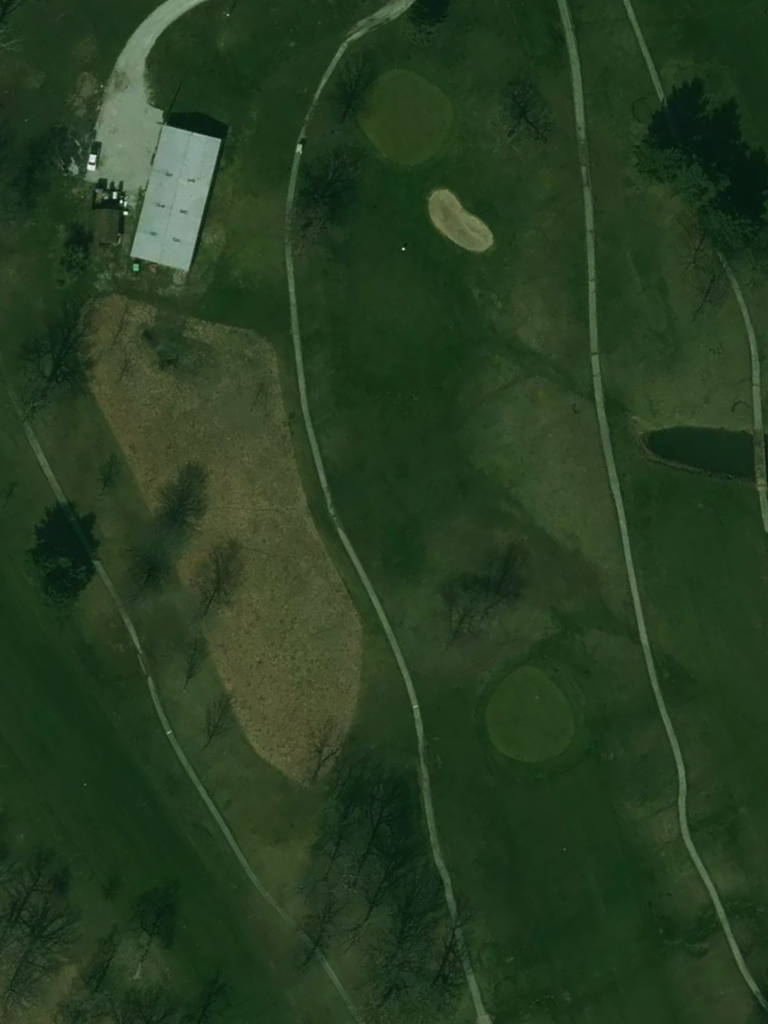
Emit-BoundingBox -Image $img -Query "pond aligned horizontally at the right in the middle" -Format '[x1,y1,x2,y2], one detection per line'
[641,425,768,482]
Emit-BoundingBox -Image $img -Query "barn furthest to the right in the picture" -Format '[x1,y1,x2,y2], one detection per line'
[132,125,221,270]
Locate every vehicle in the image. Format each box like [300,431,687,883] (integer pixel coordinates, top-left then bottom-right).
[103,192,109,202]
[88,148,97,171]
[95,187,104,206]
[112,190,118,200]
[296,143,302,152]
